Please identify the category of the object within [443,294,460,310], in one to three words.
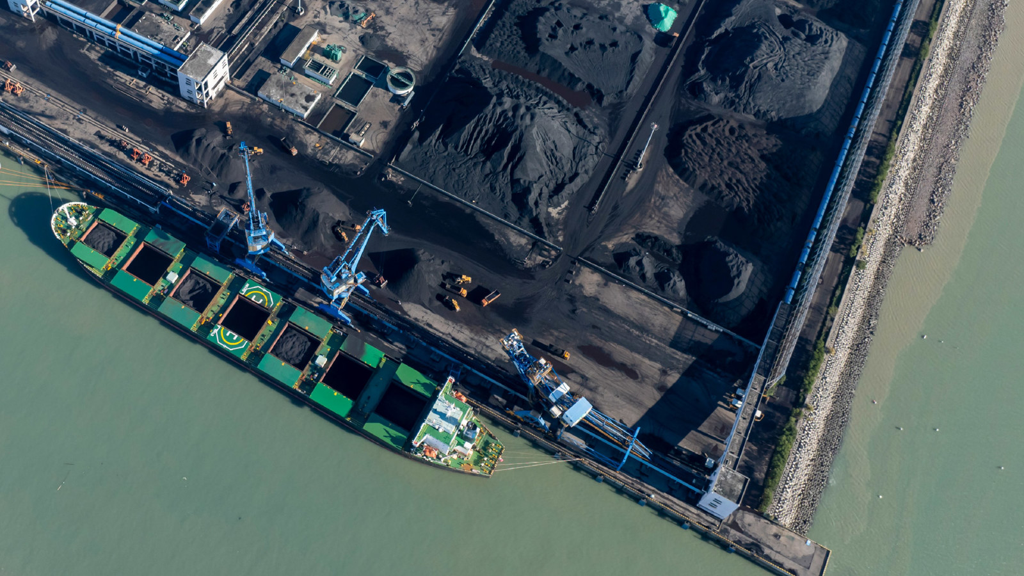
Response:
work vehicle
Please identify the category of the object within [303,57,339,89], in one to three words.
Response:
house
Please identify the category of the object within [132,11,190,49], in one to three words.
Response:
building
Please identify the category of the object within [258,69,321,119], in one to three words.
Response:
building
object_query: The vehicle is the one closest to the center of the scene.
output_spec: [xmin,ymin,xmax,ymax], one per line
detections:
[481,288,500,305]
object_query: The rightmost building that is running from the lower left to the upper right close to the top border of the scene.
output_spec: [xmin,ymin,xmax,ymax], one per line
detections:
[280,25,318,72]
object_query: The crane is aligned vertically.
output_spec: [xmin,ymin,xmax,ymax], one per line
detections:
[230,151,291,281]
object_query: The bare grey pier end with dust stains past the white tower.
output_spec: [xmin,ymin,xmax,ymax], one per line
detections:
[718,508,830,576]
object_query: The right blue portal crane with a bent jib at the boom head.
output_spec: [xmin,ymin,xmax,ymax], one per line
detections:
[314,227,398,327]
